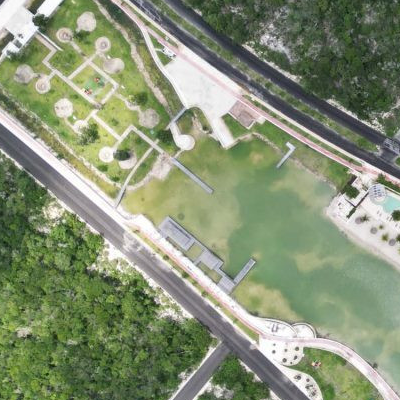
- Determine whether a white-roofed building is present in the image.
Yes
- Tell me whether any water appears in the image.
Yes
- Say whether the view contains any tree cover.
Yes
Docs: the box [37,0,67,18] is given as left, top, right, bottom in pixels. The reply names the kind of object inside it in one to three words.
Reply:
building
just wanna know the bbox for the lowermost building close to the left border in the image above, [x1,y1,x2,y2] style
[2,28,41,55]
